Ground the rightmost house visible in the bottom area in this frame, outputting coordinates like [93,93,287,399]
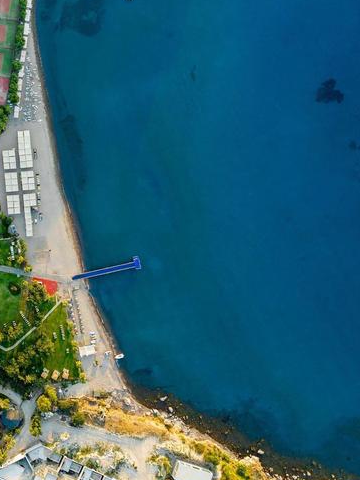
[171,458,212,480]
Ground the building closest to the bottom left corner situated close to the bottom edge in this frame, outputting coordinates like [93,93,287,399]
[0,456,25,480]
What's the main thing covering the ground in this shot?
water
